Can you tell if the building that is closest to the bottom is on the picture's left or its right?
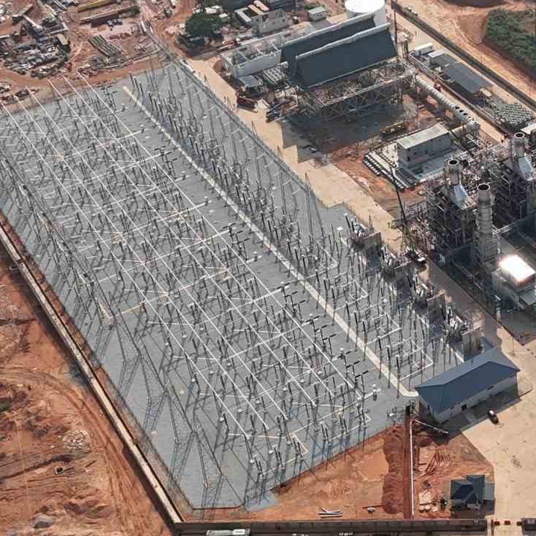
right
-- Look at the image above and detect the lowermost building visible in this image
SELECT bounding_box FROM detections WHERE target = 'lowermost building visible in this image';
[447,478,485,515]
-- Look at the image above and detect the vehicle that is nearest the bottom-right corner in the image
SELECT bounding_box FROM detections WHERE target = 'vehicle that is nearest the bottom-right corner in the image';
[487,408,500,424]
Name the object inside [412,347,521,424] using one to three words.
building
